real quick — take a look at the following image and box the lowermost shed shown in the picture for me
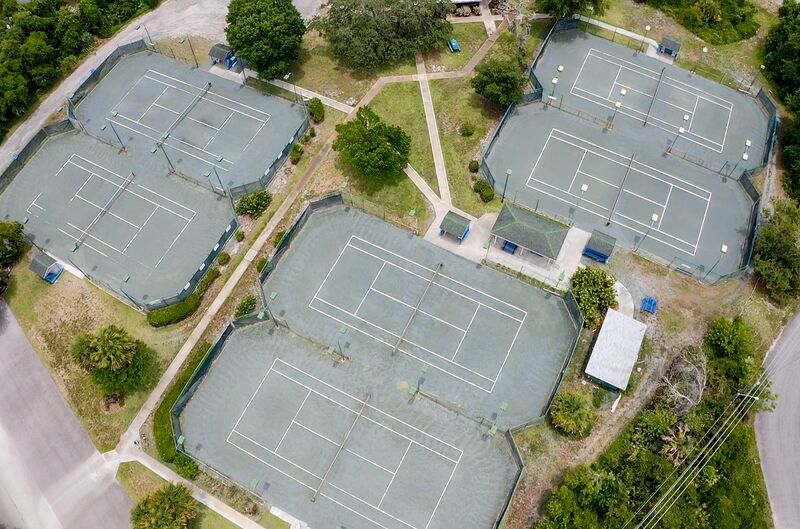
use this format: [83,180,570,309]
[580,309,648,394]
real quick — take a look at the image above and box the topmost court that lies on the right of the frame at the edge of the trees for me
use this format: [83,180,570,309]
[531,29,768,177]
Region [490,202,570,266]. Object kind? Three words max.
building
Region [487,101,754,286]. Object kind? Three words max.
tennis court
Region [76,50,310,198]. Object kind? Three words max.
tennis court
